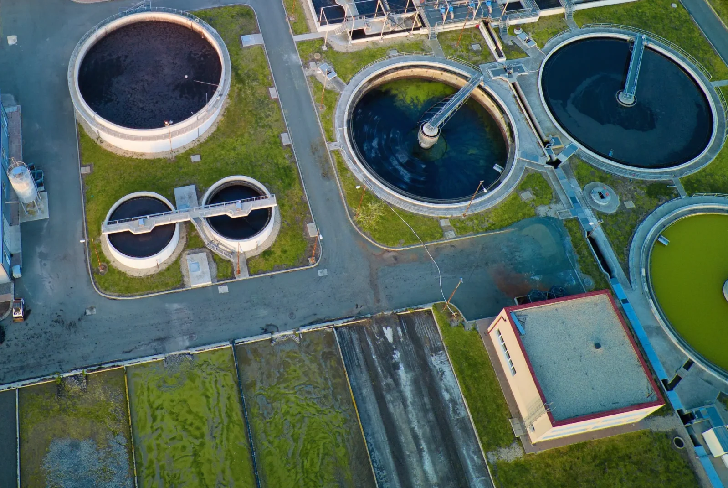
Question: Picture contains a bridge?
Yes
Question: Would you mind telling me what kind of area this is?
industrial area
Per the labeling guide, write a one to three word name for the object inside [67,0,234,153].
storage tank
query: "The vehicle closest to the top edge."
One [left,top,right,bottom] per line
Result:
[8,293,27,326]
